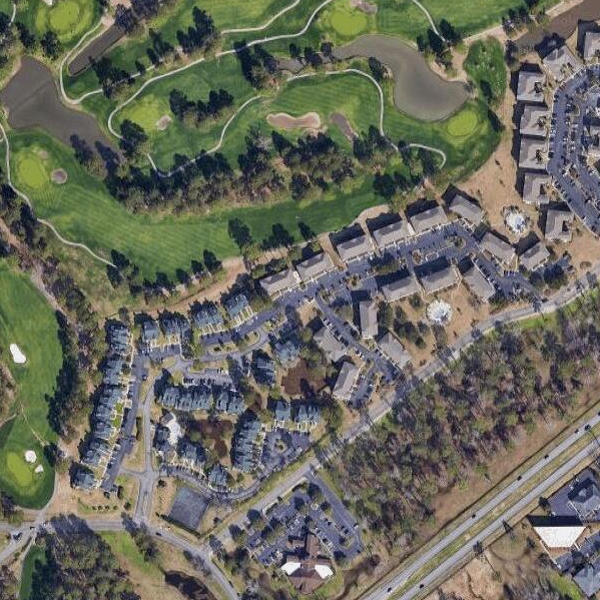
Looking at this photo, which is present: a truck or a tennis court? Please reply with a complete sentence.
The one in the frame is a tennis court.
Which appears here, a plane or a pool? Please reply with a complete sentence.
Visible in the photo is a pool.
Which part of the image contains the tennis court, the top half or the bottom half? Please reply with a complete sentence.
It is in the bottom half that the tennis court appears.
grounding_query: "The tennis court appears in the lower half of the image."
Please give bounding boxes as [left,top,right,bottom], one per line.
[168,486,211,530]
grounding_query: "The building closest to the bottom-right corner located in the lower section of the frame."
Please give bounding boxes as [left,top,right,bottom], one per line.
[570,564,600,598]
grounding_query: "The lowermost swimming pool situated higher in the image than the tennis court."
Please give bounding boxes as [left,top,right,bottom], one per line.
[166,415,182,445]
